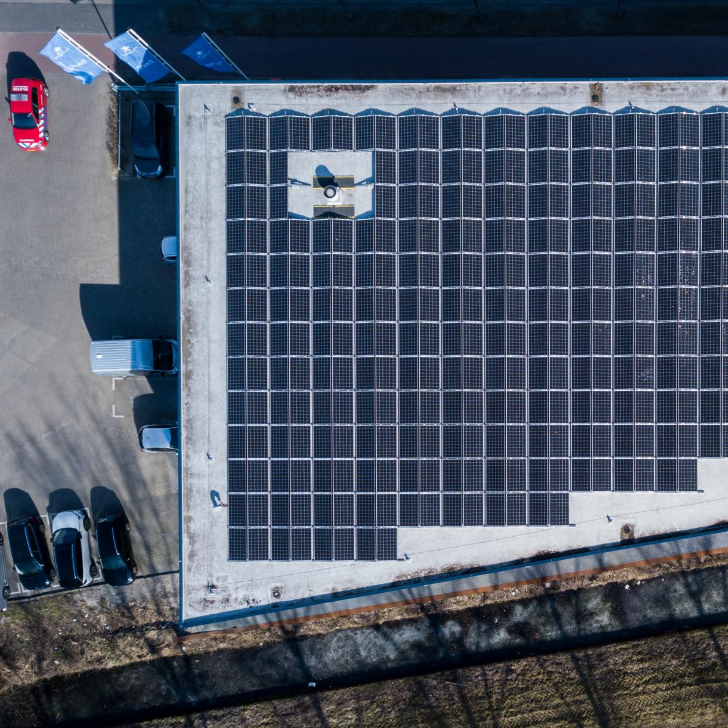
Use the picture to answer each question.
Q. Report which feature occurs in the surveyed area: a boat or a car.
car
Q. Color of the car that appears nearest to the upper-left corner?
red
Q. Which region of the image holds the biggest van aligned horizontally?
left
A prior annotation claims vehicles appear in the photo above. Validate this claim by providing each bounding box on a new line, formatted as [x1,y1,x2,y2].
[48,510,98,588]
[0,539,11,608]
[129,103,172,180]
[164,234,178,266]
[143,425,179,453]
[93,338,179,376]
[2,76,49,151]
[92,512,141,588]
[4,513,56,593]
